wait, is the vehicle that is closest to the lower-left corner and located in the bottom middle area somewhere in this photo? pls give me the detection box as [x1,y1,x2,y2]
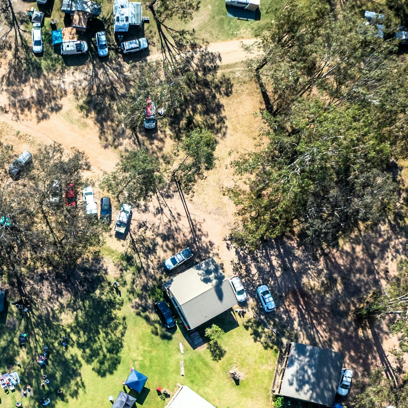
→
[156,300,175,328]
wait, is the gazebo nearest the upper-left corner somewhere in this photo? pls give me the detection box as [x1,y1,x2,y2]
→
[26,10,45,31]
